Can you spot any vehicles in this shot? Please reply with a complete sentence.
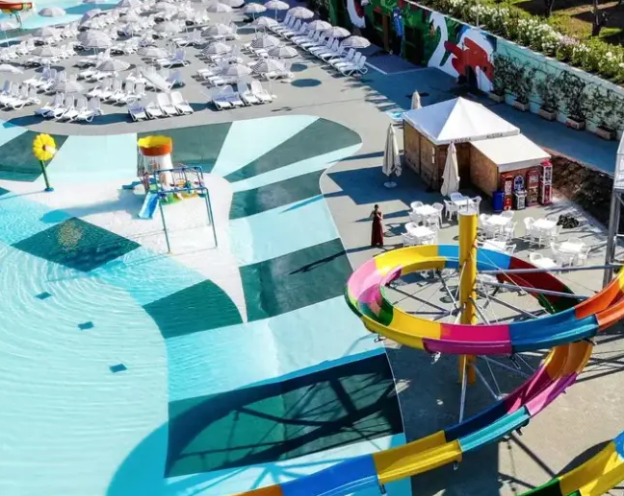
No, I find no vehicle anywhere in the image.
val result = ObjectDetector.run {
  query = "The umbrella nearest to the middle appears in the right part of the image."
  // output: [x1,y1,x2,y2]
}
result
[381,126,399,188]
